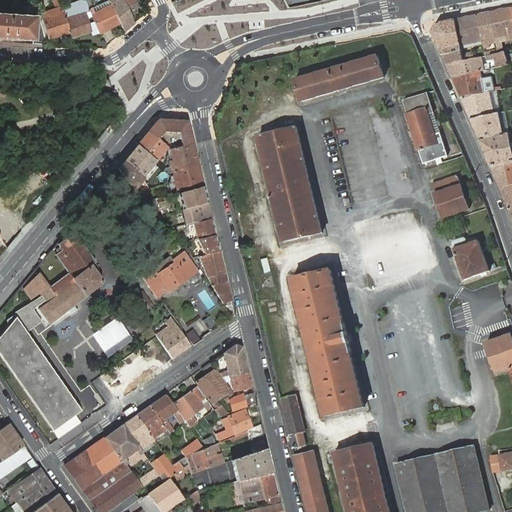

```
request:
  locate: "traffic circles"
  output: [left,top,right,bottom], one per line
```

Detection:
[154,48,230,112]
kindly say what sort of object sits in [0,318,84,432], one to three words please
building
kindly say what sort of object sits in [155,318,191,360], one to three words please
house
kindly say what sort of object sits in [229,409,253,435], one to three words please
house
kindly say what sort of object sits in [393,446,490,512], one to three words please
building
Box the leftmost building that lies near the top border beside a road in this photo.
[0,13,42,48]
